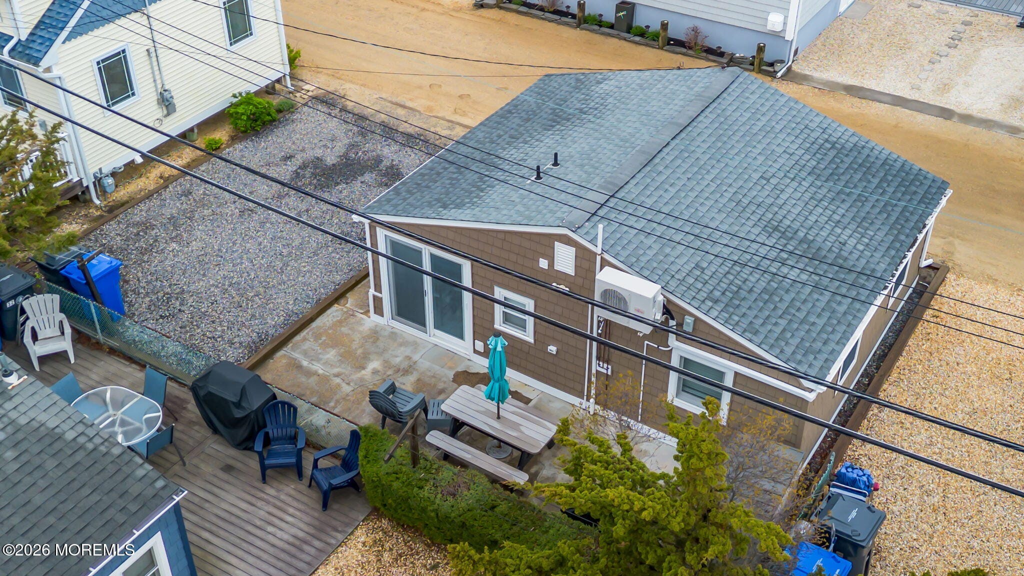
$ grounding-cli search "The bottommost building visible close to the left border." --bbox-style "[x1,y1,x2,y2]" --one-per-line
[0,332,195,576]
